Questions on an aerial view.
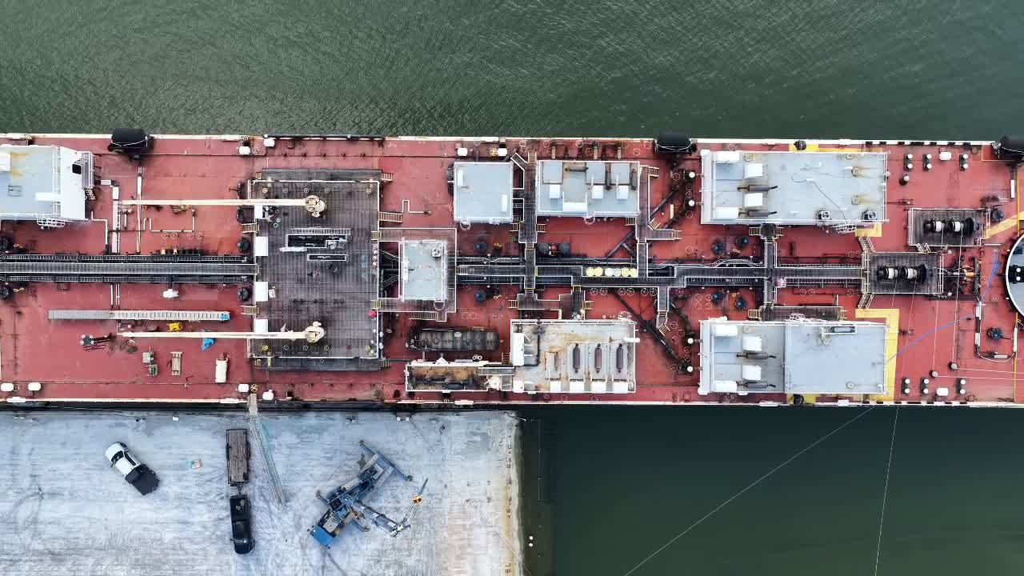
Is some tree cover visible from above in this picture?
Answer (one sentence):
No, the scene doesn't show any tree cover.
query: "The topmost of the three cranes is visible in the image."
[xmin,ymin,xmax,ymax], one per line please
[115,196,332,220]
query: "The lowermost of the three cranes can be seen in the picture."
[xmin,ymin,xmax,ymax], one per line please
[303,437,427,555]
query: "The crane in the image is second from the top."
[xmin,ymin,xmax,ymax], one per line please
[115,317,332,341]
